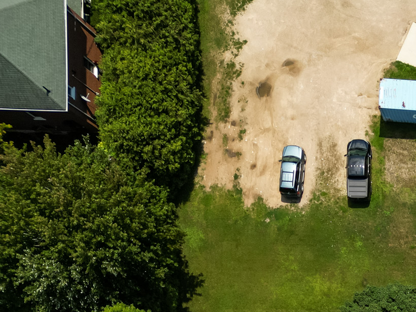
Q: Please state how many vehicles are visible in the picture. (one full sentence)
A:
I count 2 vehicles.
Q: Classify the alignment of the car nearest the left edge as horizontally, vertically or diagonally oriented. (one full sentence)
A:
The car nearest the left edge is oriented vertically.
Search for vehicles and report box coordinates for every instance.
[345,138,373,202]
[277,144,304,197]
